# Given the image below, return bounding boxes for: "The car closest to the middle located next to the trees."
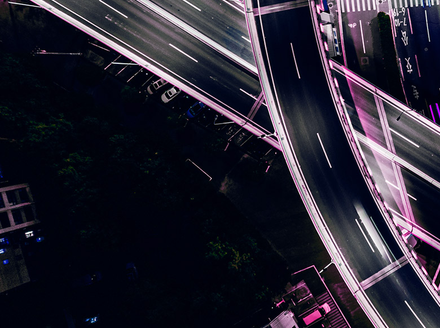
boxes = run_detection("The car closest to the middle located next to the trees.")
[217,123,240,141]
